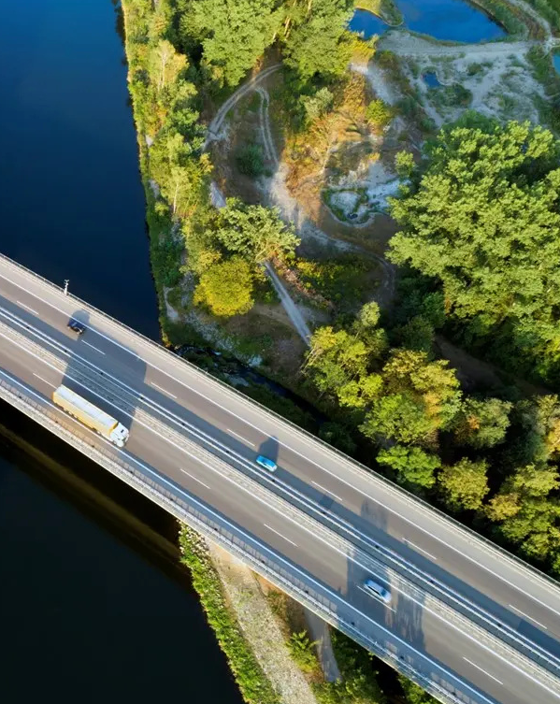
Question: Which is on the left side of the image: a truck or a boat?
truck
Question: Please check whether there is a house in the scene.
No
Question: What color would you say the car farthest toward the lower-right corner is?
blue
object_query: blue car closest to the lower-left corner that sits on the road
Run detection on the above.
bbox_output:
[253,454,276,473]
